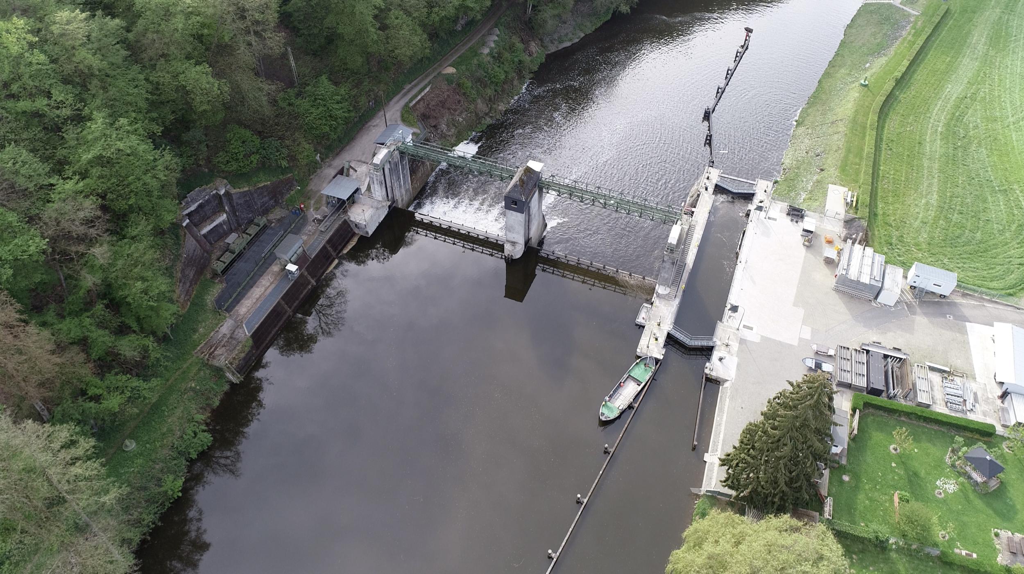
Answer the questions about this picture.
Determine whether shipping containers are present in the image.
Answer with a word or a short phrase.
Yes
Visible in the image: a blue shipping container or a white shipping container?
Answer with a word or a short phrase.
white shipping container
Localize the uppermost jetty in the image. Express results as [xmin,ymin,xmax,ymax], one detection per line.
[699,37,751,168]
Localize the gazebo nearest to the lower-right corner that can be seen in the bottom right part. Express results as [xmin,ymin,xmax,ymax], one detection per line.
[958,448,1005,491]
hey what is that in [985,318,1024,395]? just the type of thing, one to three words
shed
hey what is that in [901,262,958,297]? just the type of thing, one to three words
trailer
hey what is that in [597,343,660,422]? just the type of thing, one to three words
boat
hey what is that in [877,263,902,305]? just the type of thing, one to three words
shipping container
